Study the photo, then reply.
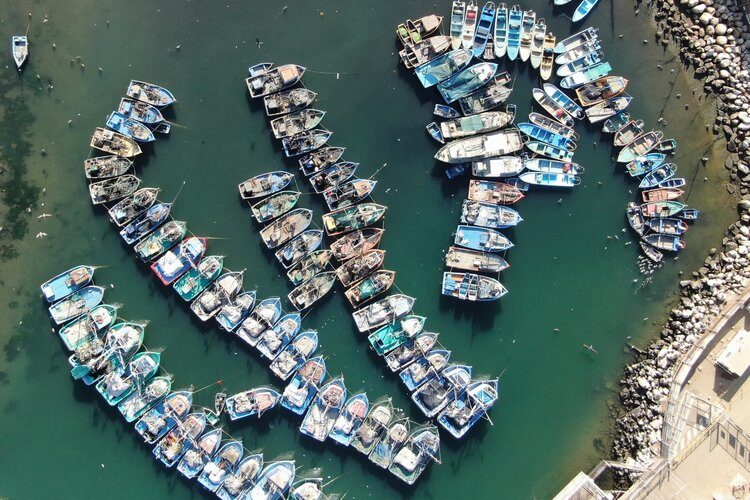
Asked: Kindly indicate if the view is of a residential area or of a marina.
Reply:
marina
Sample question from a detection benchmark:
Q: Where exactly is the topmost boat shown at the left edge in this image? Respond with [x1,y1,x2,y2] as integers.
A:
[11,36,29,69]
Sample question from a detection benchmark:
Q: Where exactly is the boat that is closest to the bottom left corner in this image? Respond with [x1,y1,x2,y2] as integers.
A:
[64,365,91,381]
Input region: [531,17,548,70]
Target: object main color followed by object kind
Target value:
white boat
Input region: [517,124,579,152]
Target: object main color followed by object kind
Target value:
blue boat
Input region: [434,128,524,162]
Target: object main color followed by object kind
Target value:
white boat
